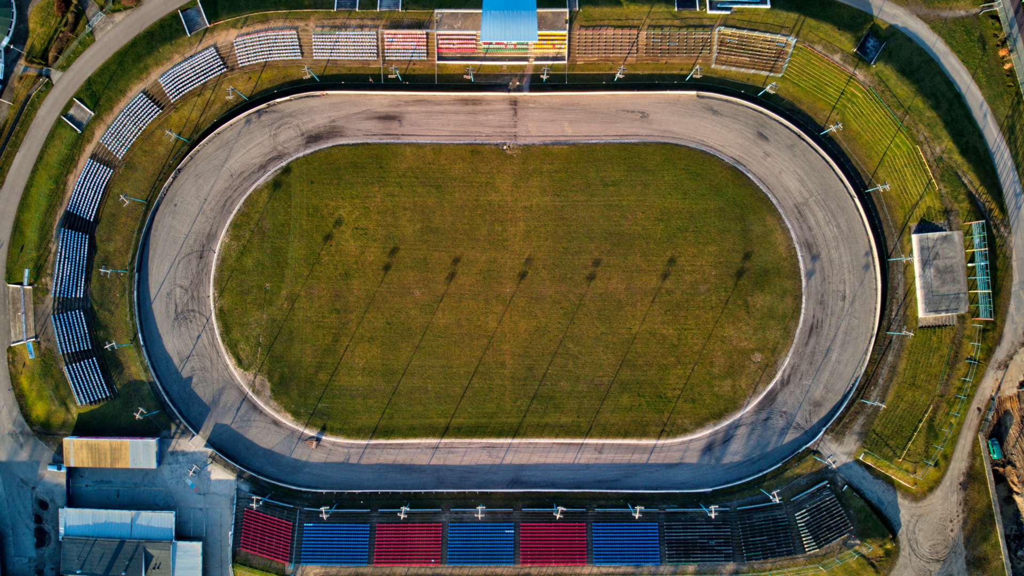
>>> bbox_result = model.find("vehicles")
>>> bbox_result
[44,462,66,471]
[988,437,1005,461]
[302,440,319,450]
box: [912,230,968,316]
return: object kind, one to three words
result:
building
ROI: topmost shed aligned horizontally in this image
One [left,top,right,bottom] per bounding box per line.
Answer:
[63,437,162,468]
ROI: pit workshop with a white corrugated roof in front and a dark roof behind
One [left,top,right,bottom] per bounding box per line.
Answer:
[59,506,206,576]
